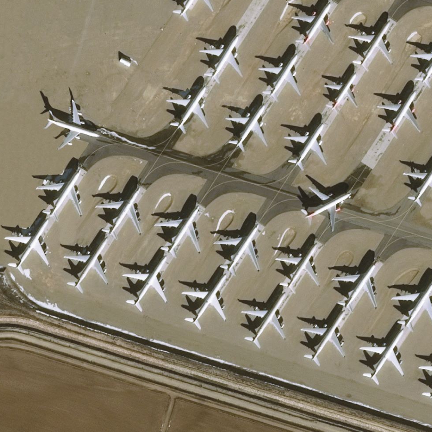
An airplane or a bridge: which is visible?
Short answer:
airplane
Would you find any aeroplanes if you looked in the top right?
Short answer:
Yes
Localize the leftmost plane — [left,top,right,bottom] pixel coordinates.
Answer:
[7,218,50,273]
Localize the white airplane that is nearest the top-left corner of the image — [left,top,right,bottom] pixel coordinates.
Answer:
[44,100,100,150]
